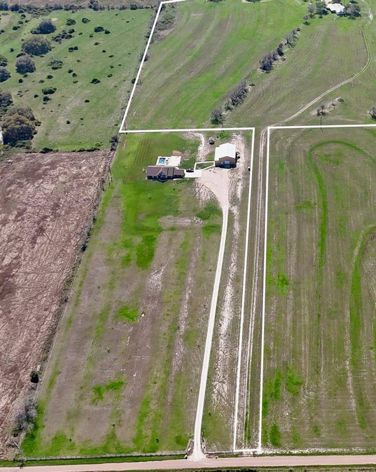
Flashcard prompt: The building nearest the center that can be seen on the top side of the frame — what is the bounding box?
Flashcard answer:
[146,163,189,184]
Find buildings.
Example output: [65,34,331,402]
[327,0,348,14]
[146,163,189,184]
[213,141,238,167]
